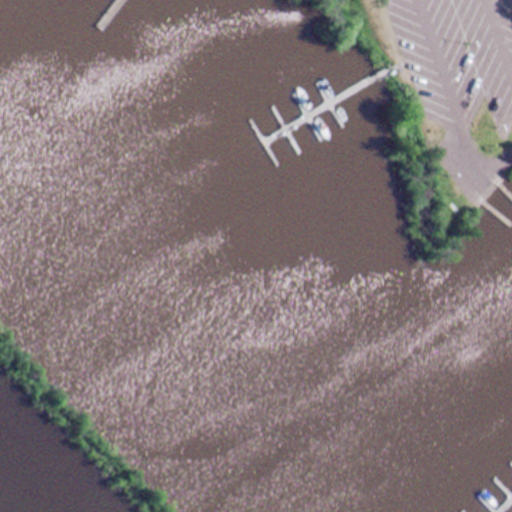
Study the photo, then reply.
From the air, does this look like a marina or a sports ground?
marina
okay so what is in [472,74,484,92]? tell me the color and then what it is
white vehicle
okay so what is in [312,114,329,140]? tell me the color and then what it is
white boat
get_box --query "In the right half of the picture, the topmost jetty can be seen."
[249,70,389,166]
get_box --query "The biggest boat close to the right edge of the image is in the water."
[480,486,499,507]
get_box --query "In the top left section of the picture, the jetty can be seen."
[97,0,127,31]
